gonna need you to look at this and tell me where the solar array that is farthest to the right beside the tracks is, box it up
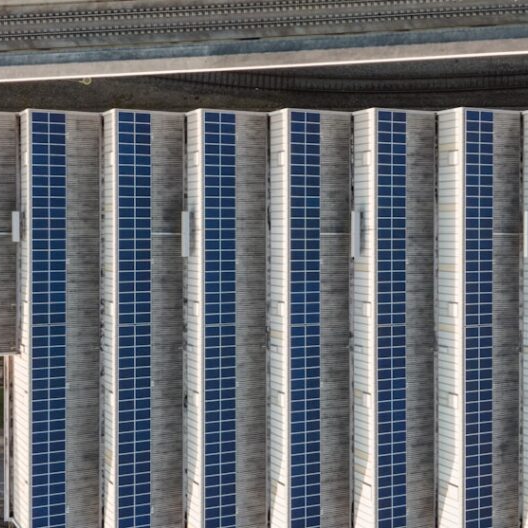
[466,110,521,528]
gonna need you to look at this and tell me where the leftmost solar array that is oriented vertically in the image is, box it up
[31,111,69,528]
